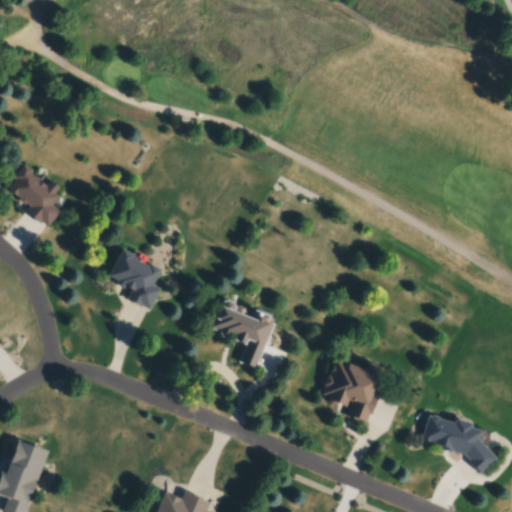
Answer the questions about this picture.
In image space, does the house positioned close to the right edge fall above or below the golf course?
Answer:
below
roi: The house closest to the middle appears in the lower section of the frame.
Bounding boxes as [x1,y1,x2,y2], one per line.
[214,295,278,368]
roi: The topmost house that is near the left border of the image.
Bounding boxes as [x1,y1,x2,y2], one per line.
[9,164,66,228]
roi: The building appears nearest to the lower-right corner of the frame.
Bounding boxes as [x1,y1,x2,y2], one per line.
[422,412,503,478]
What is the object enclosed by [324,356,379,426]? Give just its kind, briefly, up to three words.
house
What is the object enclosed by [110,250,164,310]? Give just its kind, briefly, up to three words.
house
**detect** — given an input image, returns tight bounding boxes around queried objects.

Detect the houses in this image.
[110,250,164,310]
[214,295,278,368]
[156,488,213,512]
[0,440,51,512]
[324,356,379,426]
[9,164,66,228]
[422,412,503,478]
